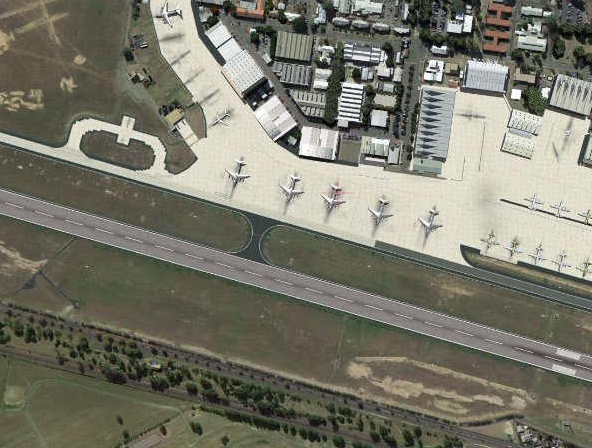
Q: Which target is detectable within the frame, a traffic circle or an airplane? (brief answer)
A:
airplane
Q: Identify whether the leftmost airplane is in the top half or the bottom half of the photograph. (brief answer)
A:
top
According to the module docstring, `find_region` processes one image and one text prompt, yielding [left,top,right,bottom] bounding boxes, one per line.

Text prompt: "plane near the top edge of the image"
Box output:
[155,1,183,26]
